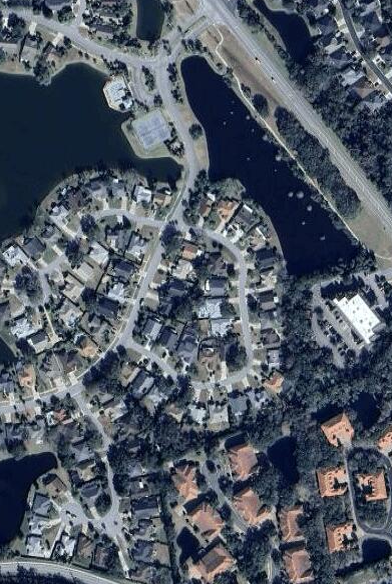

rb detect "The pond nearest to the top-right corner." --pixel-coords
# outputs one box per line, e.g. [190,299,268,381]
[254,0,313,66]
